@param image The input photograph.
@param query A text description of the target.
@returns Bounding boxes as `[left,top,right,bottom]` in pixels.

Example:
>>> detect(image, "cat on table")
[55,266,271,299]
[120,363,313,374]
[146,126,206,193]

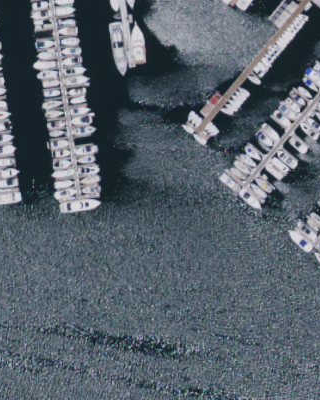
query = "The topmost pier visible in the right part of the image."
[195,0,311,134]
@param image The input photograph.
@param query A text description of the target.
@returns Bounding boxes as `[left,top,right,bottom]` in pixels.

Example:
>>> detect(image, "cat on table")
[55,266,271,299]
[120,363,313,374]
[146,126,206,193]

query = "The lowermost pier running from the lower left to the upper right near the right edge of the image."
[224,72,320,196]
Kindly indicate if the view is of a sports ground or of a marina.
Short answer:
marina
